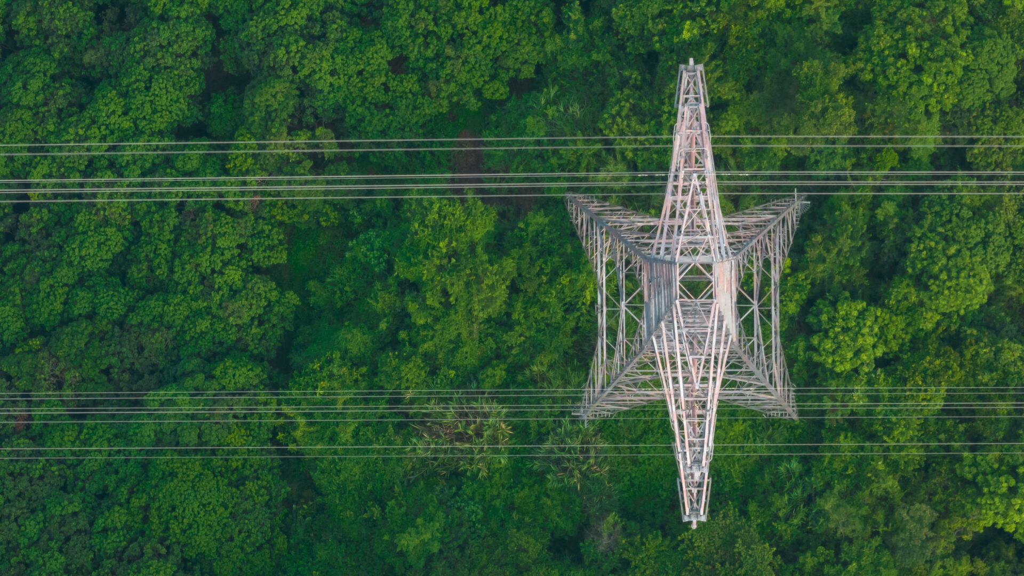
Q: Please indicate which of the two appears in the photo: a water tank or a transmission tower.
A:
transmission tower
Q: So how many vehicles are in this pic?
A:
0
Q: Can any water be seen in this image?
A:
No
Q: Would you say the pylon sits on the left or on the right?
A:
right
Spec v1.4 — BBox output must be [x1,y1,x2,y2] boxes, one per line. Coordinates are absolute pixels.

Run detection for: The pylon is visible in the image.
[560,55,815,532]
